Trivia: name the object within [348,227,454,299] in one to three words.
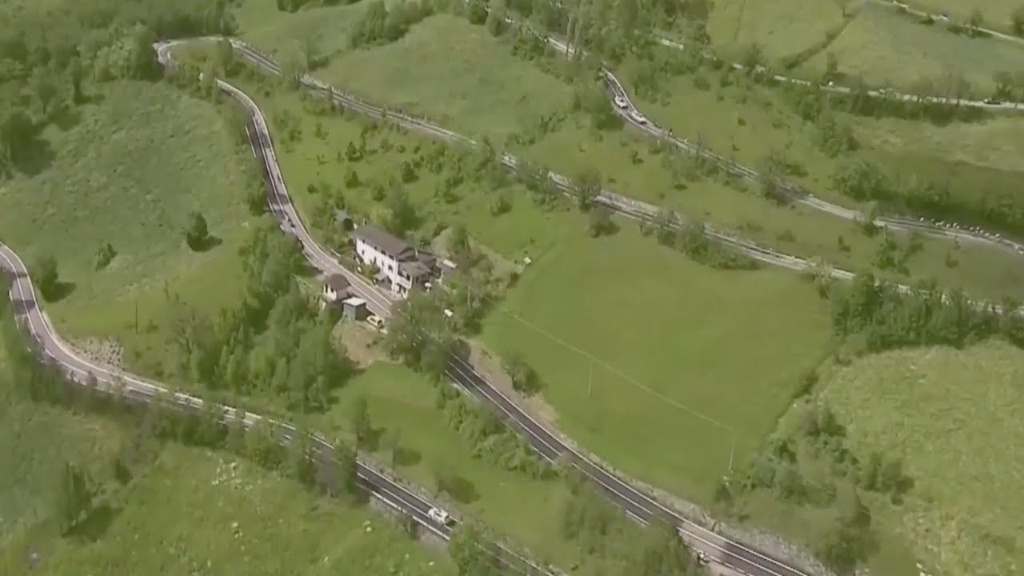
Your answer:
house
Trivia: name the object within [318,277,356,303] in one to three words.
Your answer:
shed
